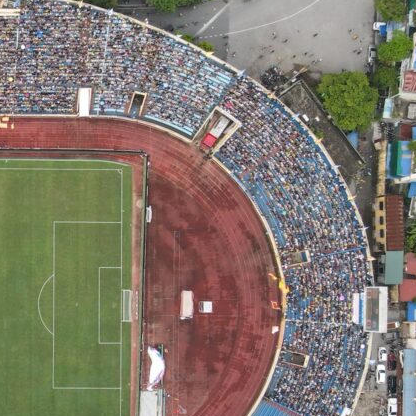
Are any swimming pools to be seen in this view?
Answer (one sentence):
No, there appears to be no swimming pool in this shot.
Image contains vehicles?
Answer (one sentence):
Yes, there's a vehicle down there.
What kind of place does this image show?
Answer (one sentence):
The picture captures a sports ground.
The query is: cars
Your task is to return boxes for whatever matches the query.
[365,45,376,65]
[384,352,395,370]
[375,345,386,363]
[385,374,395,393]
[374,364,384,383]
[385,399,395,416]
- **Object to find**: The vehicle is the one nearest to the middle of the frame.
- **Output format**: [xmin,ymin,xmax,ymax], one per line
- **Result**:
[200,114,228,149]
